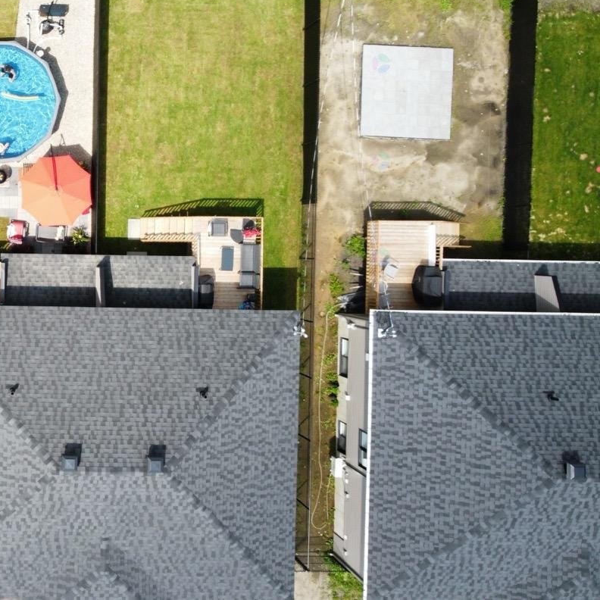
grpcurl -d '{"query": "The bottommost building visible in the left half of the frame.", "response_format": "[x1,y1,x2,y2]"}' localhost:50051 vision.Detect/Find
[0,251,304,600]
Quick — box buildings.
[0,251,304,600]
[336,254,600,600]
